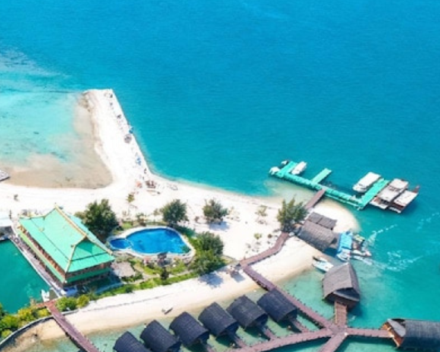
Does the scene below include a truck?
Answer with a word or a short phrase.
No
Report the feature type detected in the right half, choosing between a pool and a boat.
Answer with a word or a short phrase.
boat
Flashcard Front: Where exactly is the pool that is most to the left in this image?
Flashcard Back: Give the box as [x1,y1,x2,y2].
[108,236,133,251]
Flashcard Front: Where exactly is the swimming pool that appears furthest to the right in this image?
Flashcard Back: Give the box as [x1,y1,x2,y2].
[125,225,195,256]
